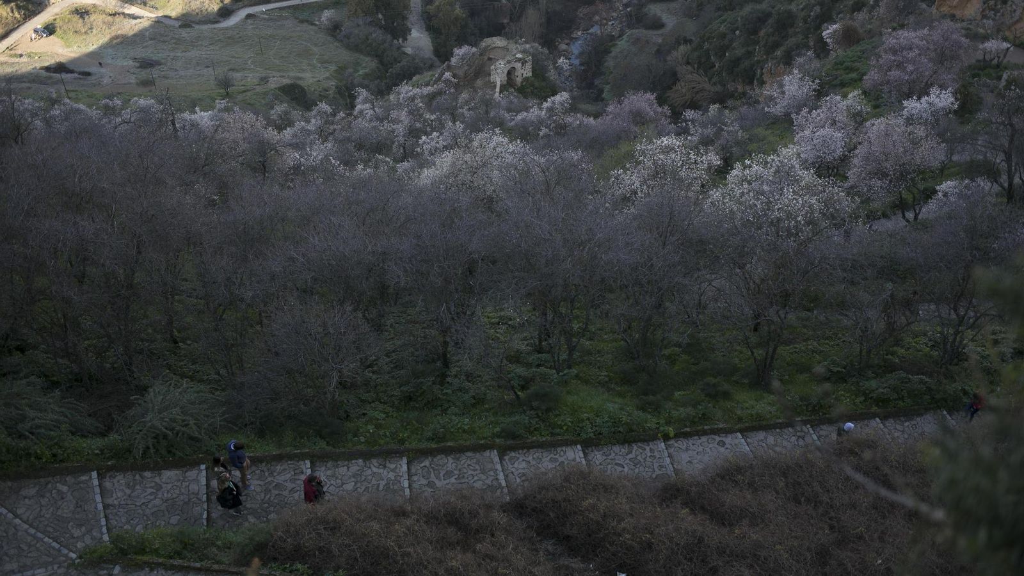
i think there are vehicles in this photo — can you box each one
[34,26,48,38]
